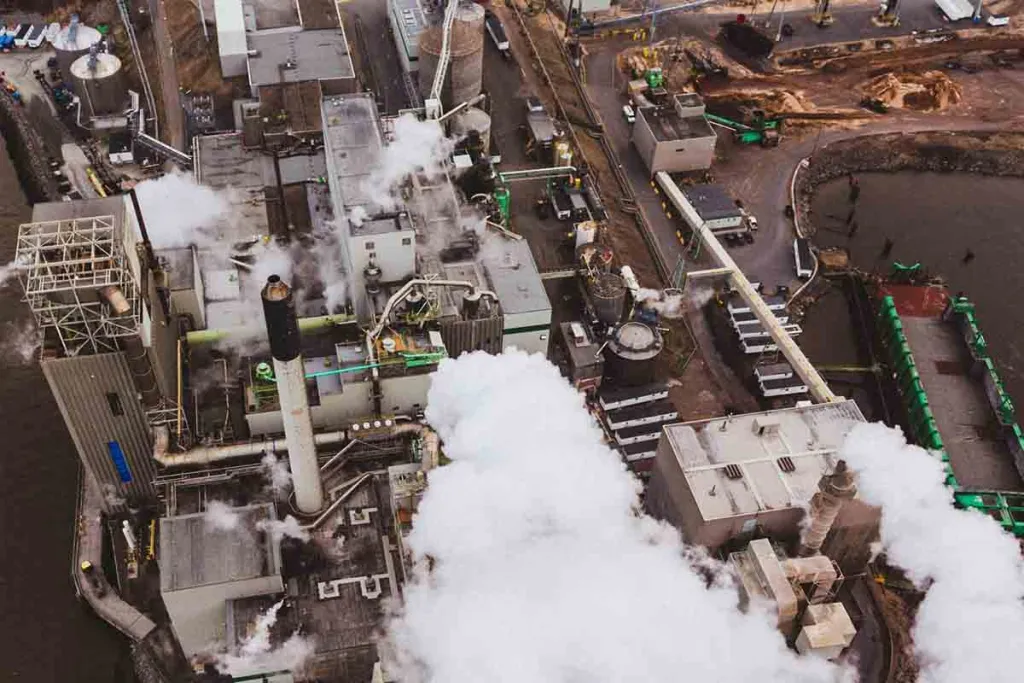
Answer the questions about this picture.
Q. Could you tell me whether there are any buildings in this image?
Yes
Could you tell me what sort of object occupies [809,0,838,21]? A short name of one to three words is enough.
crane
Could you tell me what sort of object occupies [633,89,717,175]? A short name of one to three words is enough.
house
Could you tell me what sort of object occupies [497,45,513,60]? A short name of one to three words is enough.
vehicle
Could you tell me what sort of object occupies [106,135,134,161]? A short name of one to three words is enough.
shed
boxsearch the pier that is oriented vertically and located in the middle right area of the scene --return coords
[839,270,893,429]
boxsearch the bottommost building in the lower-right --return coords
[796,598,858,682]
